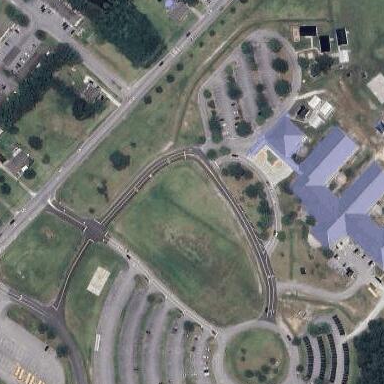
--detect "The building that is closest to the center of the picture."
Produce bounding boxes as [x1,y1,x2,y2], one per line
[261,108,309,159]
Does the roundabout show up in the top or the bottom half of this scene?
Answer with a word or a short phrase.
bottom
